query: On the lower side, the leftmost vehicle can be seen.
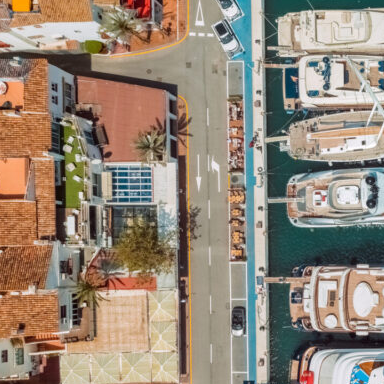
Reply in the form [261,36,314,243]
[230,306,248,336]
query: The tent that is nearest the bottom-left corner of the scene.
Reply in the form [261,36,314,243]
[60,352,91,384]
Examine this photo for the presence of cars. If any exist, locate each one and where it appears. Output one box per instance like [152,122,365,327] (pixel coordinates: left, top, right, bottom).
[214,21,243,59]
[230,306,248,336]
[218,0,243,23]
